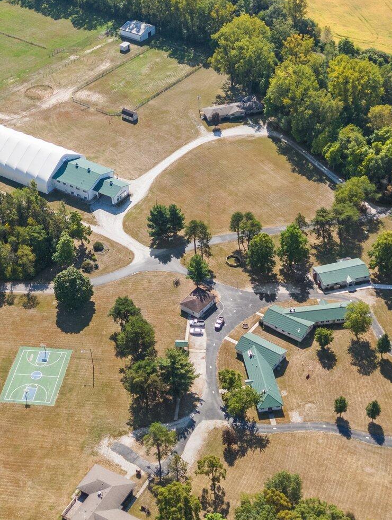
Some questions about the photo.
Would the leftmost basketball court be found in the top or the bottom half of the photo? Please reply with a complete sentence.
The bottom half of the photo is where the leftmost basketball court is.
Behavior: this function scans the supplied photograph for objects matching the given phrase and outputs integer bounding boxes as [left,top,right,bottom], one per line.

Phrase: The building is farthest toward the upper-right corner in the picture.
[202,102,262,122]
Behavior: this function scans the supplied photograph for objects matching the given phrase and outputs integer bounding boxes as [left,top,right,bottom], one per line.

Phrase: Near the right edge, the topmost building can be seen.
[311,258,378,298]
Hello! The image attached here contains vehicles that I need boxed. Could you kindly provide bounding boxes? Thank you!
[189,318,206,326]
[214,317,225,330]
[190,328,203,334]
